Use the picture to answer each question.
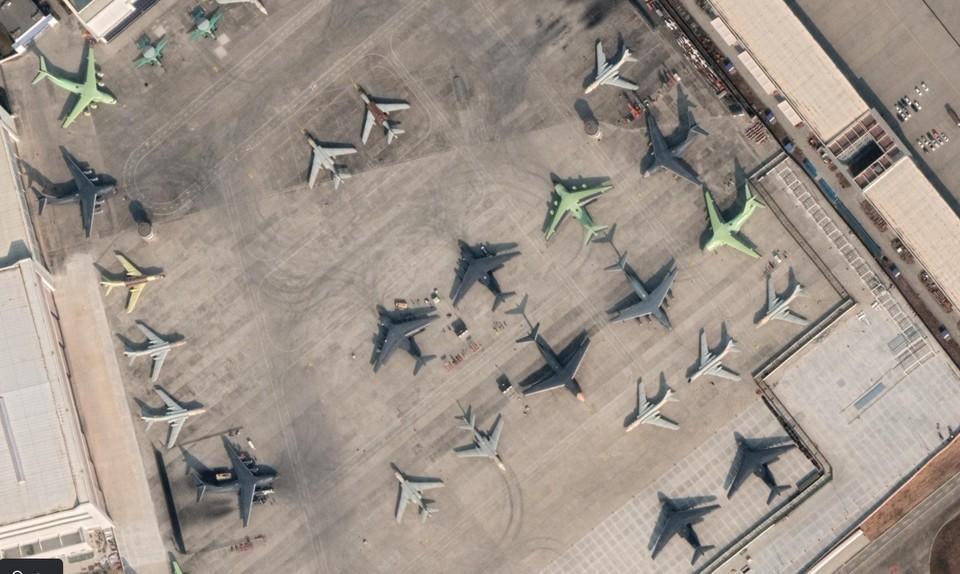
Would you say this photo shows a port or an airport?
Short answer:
airport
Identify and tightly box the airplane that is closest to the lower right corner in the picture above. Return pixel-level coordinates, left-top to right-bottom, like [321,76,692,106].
[729,444,798,508]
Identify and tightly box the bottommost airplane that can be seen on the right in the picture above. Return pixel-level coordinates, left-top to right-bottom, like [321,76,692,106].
[653,503,722,567]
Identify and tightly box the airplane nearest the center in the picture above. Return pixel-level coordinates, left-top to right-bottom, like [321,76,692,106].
[454,250,522,314]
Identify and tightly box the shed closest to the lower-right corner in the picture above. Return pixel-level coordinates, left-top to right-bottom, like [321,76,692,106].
[810,531,870,574]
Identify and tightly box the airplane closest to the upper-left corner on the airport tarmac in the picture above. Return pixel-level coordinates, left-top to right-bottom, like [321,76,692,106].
[32,47,117,128]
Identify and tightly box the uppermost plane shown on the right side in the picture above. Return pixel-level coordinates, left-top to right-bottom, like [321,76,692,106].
[585,39,645,93]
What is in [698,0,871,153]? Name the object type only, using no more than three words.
hangar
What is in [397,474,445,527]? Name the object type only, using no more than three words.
airplane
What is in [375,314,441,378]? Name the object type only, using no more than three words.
airplane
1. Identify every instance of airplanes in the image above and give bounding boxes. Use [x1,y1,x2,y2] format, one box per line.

[119,324,187,384]
[362,96,411,146]
[626,380,685,432]
[31,144,115,239]
[585,39,645,93]
[32,47,117,128]
[190,8,225,41]
[518,324,592,399]
[194,433,276,528]
[457,415,505,471]
[309,140,358,191]
[729,444,798,508]
[643,109,710,185]
[454,250,522,314]
[397,474,445,527]
[688,330,747,383]
[94,251,164,313]
[756,274,816,327]
[653,503,722,567]
[137,388,204,449]
[218,0,265,11]
[608,253,680,328]
[702,180,774,255]
[375,314,441,378]
[547,185,615,248]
